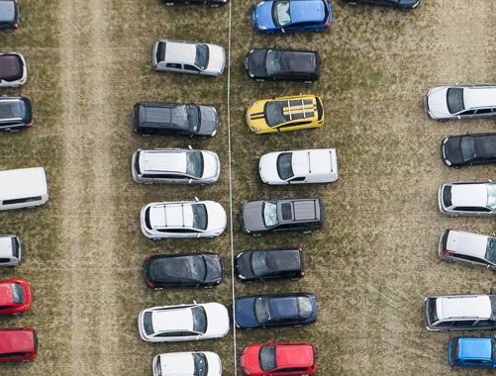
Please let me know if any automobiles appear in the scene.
Yes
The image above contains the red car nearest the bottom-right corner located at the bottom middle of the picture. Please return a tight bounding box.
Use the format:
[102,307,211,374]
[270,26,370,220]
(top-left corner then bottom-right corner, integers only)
[240,341,318,376]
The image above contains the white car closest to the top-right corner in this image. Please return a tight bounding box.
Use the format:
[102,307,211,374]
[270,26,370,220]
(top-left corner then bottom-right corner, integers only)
[426,82,496,121]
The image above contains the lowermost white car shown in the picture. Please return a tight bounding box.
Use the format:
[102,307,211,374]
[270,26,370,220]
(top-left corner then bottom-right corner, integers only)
[153,348,222,376]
